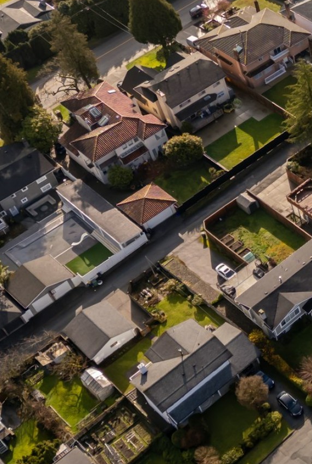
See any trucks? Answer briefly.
No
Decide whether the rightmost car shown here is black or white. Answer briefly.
black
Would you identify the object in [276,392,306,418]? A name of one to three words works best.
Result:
car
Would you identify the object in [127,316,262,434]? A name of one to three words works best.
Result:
house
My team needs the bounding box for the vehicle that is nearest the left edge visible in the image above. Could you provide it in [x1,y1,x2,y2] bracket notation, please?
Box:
[108,74,132,92]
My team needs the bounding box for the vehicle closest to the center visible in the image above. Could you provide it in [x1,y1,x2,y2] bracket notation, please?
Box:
[213,262,239,283]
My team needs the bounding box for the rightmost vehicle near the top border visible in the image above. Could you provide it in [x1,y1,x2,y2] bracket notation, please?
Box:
[186,3,209,18]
